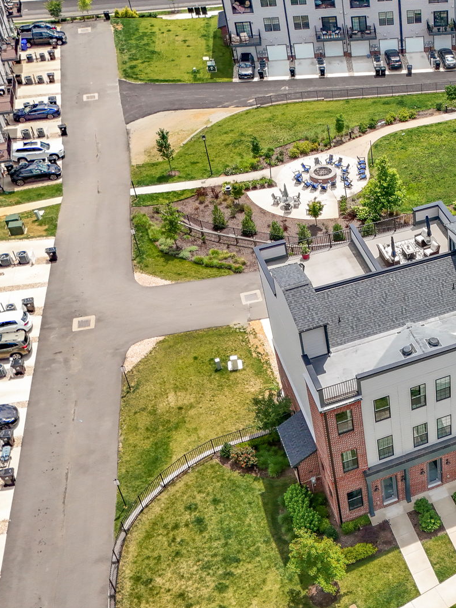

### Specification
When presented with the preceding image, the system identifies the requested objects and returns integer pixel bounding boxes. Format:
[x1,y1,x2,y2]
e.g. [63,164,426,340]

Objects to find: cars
[16,16,60,32]
[14,24,70,48]
[0,311,34,333]
[10,102,62,126]
[6,159,63,187]
[13,138,63,162]
[381,49,402,72]
[234,53,256,79]
[0,329,32,361]
[0,406,20,430]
